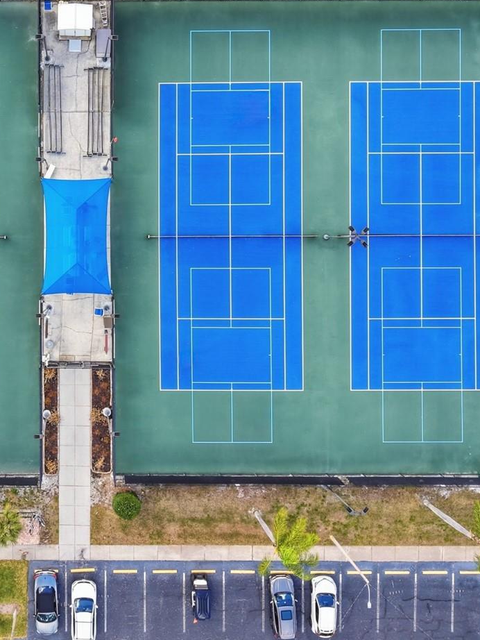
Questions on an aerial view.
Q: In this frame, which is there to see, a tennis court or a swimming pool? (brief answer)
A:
tennis court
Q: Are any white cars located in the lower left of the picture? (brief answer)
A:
Yes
